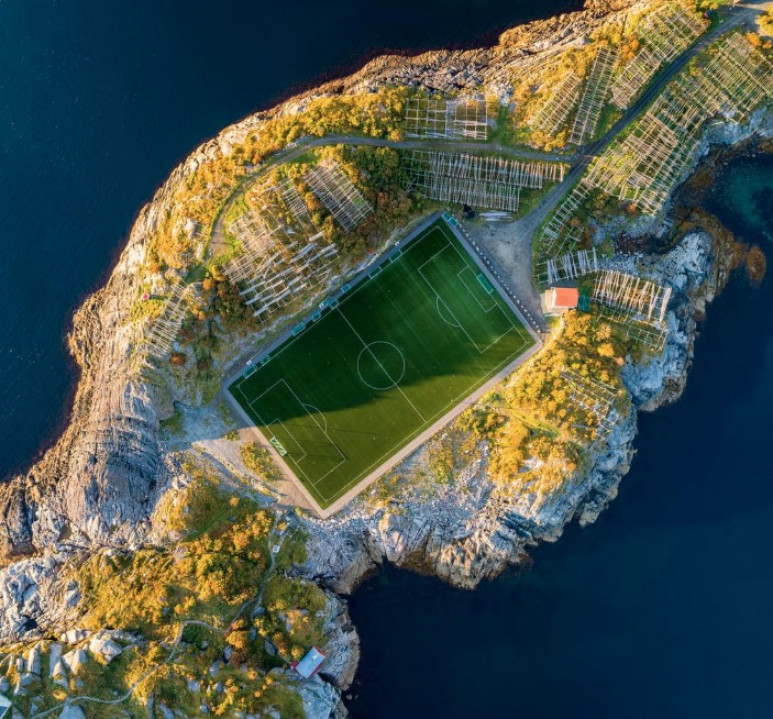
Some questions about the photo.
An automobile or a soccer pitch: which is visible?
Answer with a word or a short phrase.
soccer pitch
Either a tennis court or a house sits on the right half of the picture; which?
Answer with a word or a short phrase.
house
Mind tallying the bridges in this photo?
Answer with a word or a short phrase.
0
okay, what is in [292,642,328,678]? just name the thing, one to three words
building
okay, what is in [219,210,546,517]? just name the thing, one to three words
soccer field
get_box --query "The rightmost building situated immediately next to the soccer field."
[539,289,581,313]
